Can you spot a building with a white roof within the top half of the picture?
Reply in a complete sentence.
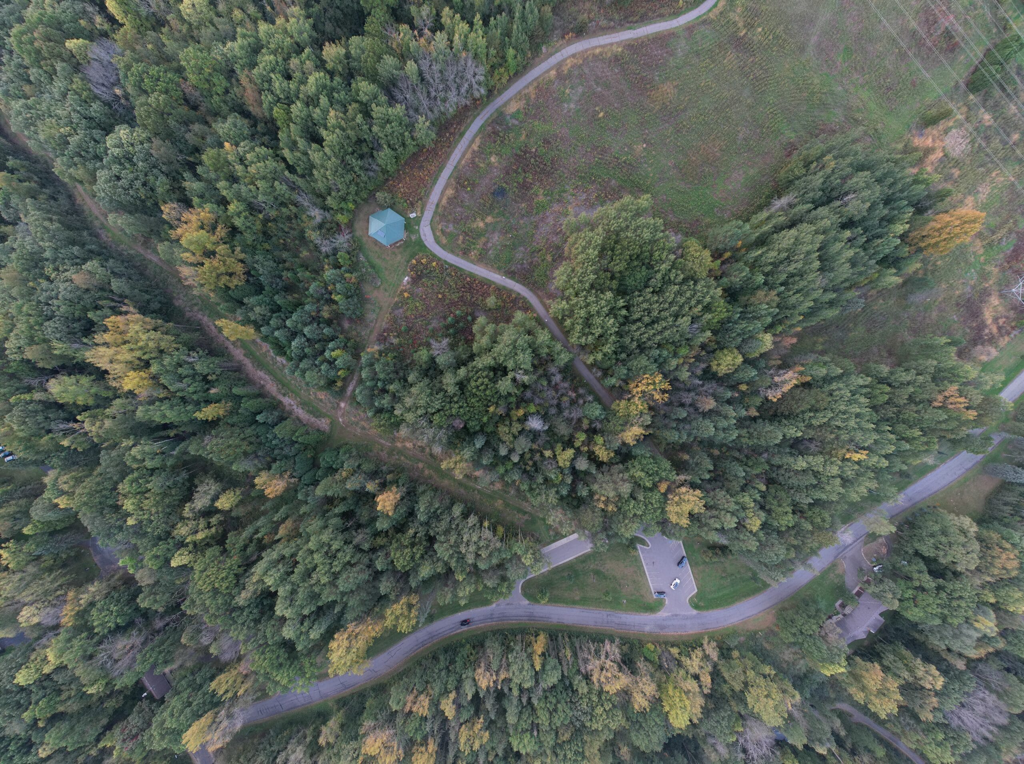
No, no building with a white roof can be made out within the top half of the picture.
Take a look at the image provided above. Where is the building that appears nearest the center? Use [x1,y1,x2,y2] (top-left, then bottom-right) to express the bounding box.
[368,208,407,248]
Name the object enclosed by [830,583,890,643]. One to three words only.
house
